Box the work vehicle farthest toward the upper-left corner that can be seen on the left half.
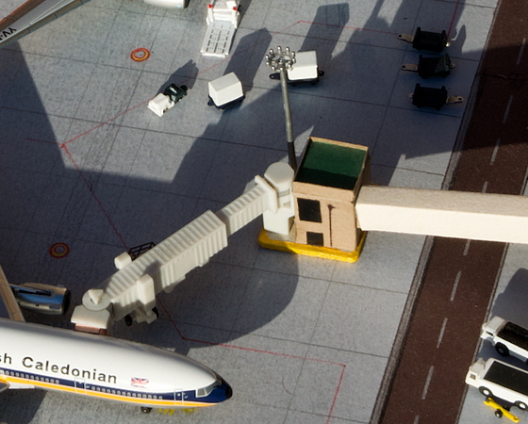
[148,81,189,117]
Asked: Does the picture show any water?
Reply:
No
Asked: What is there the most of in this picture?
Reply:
paved ground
